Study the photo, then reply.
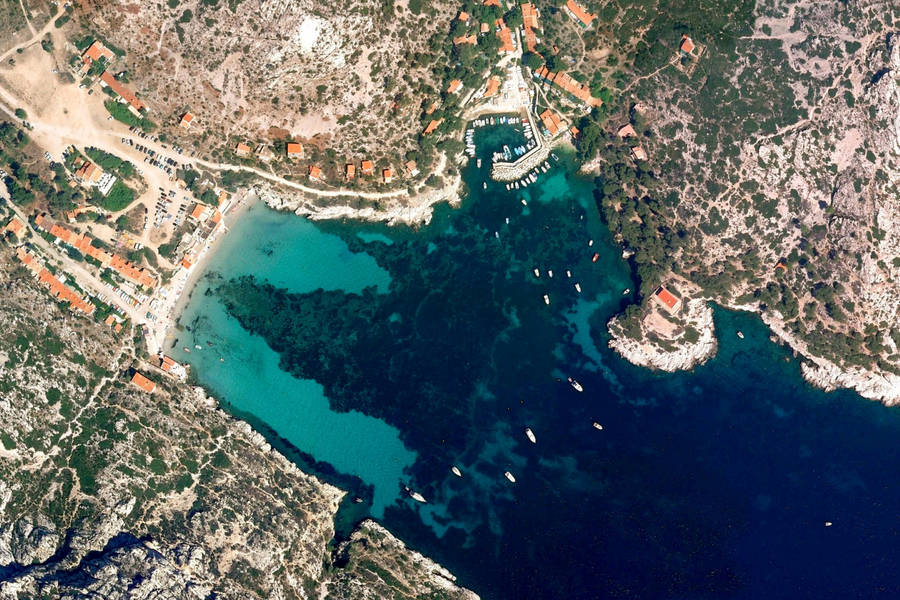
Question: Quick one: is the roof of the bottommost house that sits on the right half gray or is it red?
red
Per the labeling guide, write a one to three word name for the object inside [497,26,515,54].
house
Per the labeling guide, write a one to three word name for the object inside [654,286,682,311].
house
